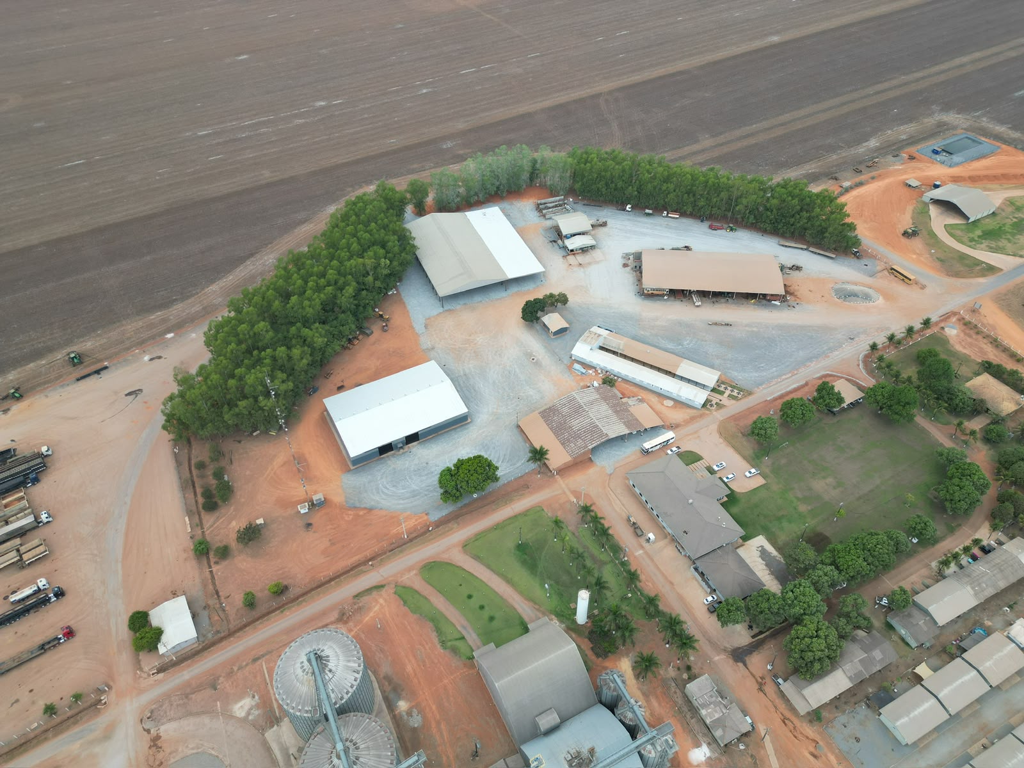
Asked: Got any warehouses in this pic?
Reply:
Yes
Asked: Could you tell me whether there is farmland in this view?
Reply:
Yes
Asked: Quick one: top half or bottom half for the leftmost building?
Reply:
bottom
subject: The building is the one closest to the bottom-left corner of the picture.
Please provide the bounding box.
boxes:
[149,596,202,662]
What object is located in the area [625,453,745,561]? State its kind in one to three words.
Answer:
building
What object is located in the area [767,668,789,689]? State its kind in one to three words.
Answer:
vehicle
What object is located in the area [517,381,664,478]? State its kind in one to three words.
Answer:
hangar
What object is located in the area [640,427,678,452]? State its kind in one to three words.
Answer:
bus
